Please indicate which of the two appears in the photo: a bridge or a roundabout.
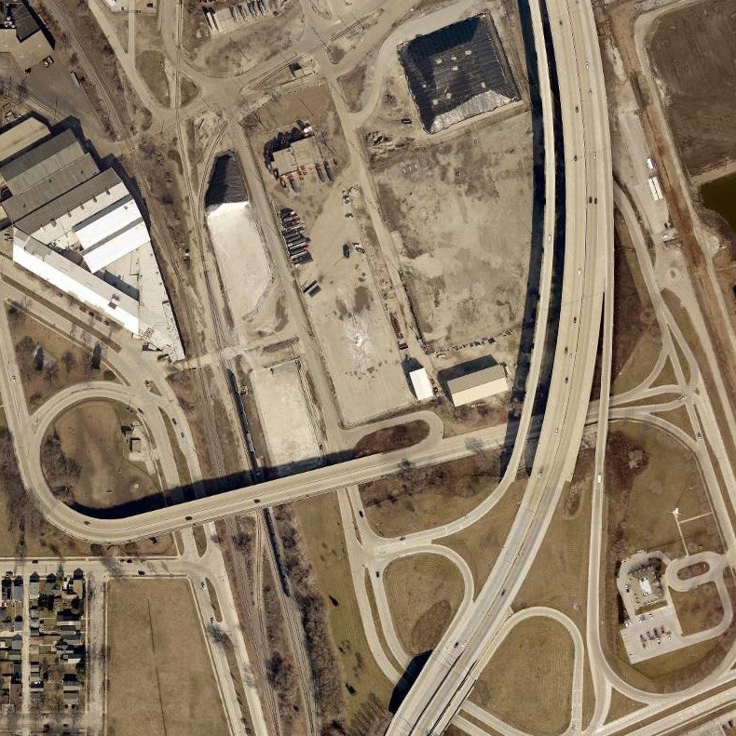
bridge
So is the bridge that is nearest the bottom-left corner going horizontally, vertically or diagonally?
horizontally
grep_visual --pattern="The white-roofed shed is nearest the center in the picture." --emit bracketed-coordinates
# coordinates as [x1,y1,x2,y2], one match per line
[409,367,433,401]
